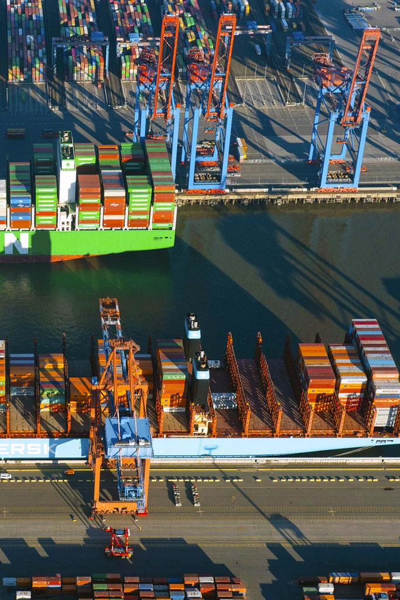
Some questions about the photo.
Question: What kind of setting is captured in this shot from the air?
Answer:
port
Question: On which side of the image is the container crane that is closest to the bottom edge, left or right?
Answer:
left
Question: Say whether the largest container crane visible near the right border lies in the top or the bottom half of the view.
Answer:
top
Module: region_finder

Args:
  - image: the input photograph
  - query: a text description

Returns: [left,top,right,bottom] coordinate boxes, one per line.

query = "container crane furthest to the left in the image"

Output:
[52,32,116,78]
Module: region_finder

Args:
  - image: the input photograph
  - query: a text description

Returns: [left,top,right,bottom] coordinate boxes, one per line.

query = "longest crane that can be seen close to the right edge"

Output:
[305,25,388,188]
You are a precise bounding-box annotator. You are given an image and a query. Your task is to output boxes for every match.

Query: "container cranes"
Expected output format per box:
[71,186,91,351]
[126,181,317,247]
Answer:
[114,36,168,77]
[52,32,116,78]
[179,13,239,189]
[222,20,277,59]
[82,297,158,519]
[282,27,345,74]
[305,25,388,188]
[133,13,183,188]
